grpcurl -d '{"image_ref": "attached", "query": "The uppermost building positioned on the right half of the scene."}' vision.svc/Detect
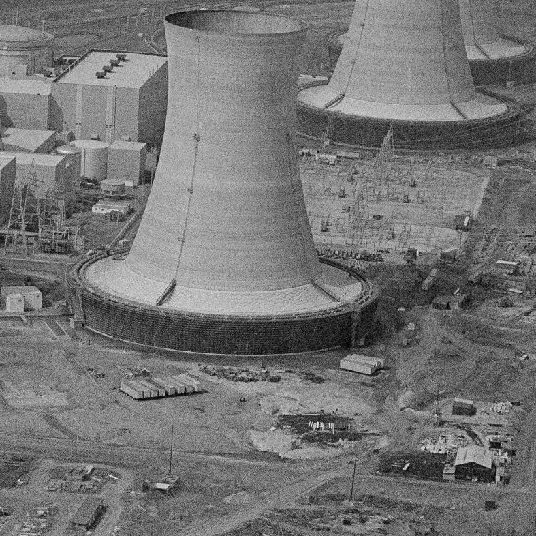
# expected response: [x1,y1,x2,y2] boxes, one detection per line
[457,216,477,233]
